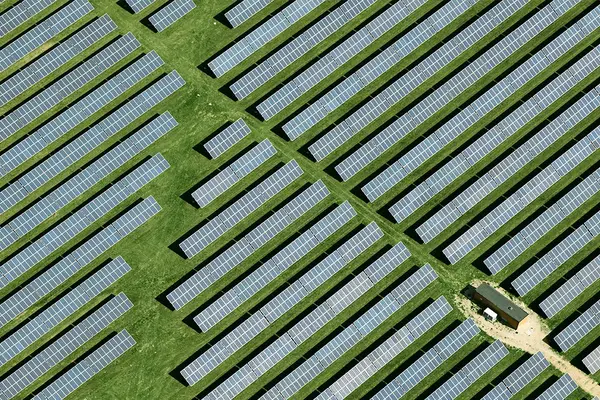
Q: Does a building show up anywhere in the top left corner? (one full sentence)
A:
No, no building appears in the top left corner.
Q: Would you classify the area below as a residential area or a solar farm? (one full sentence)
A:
This looks like a solar farm.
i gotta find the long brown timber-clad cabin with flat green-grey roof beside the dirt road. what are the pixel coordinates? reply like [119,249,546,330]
[475,281,528,327]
